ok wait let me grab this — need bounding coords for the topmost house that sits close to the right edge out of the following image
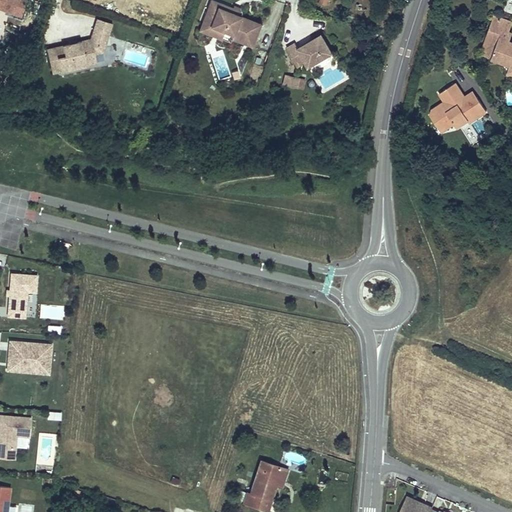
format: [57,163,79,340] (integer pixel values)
[484,16,512,78]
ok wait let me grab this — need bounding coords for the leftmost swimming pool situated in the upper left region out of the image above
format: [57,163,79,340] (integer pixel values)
[118,45,151,71]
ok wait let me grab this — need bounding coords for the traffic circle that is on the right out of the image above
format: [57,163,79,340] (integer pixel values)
[329,254,418,331]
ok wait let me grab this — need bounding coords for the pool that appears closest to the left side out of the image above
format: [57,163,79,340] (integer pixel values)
[37,433,58,466]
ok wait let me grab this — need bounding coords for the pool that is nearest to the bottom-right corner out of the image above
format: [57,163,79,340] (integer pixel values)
[280,451,308,473]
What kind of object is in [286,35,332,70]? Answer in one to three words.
house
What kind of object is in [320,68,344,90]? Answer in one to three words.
swimming pool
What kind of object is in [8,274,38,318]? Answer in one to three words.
house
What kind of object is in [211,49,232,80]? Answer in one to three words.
swimming pool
